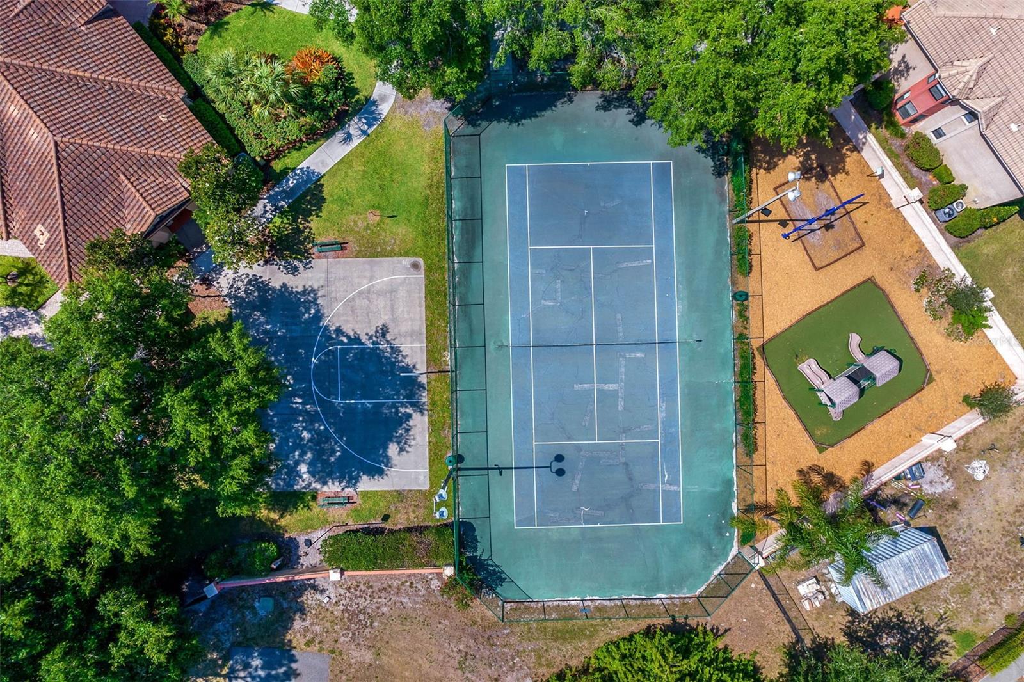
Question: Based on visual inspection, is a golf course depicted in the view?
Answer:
No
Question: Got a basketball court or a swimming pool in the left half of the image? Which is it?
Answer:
basketball court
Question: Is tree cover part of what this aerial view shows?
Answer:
Yes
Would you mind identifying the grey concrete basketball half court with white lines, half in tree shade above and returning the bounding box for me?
[192,257,428,492]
